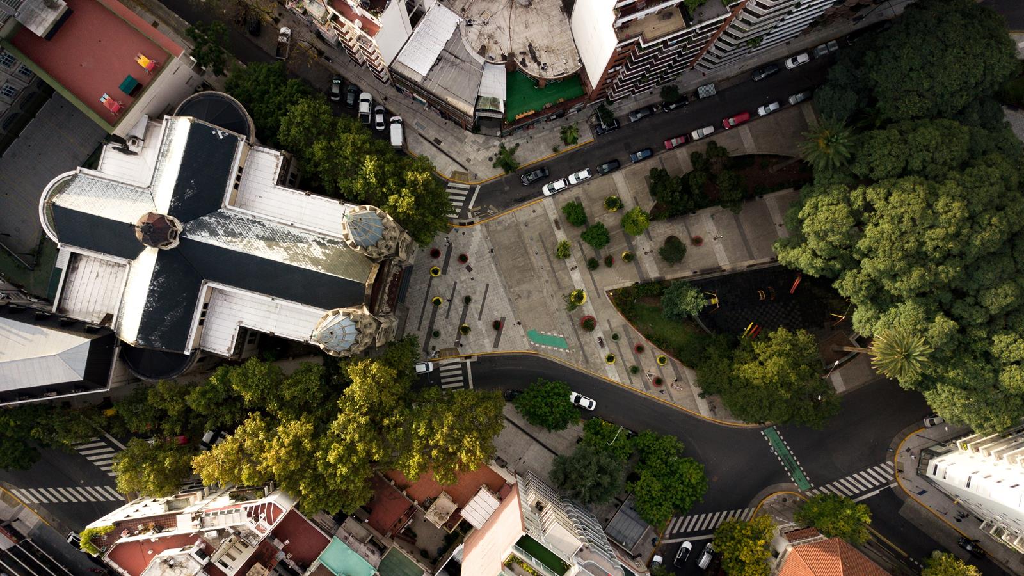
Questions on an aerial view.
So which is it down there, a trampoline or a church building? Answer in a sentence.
Visible in the photo is a church building.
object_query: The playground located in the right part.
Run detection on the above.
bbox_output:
[692,264,889,350]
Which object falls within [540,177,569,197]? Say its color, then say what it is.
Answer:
white car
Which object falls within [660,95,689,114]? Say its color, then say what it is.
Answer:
black car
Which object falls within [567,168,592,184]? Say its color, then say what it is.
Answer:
white car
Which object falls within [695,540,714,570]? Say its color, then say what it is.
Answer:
gray car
